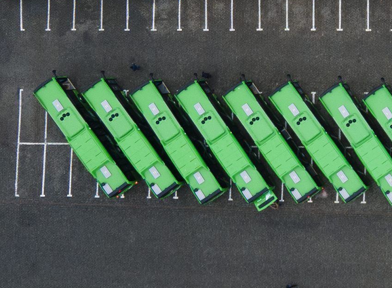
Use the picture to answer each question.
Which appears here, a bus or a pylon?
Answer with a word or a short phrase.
bus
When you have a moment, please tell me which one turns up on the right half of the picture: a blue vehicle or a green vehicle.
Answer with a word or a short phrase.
green vehicle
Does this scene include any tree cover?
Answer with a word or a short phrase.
No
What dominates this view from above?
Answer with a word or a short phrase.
paved ground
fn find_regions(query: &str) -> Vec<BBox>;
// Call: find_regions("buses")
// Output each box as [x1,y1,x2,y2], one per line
[266,71,376,204]
[128,71,236,206]
[316,73,392,204]
[172,71,282,213]
[32,68,146,200]
[359,75,392,140]
[220,71,330,206]
[80,69,189,200]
